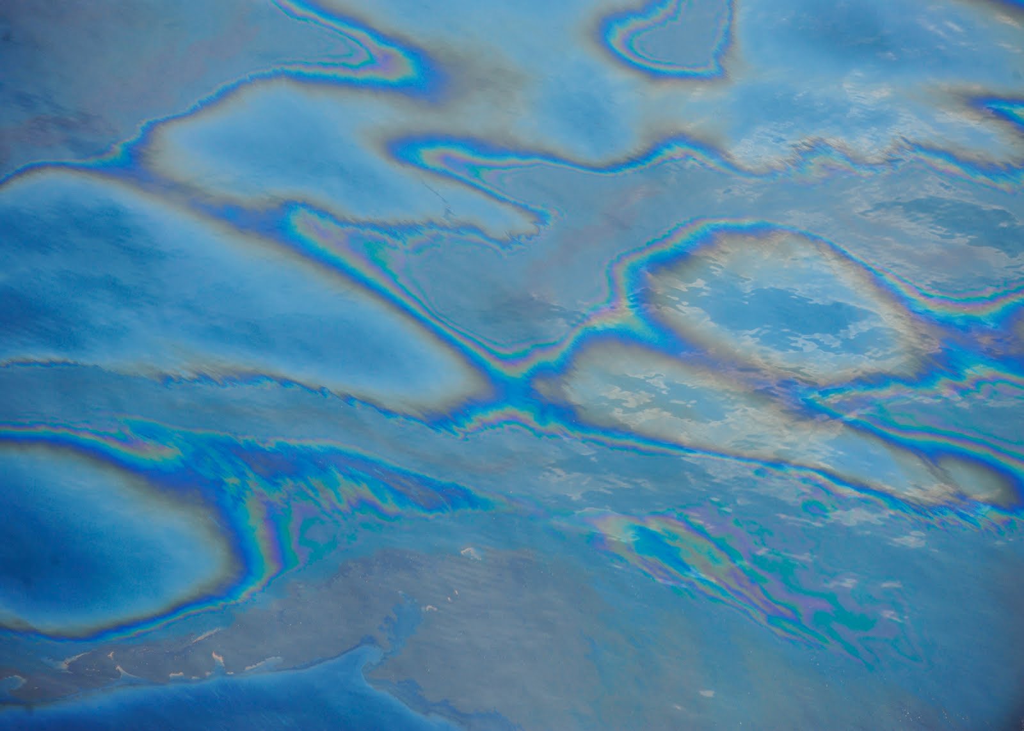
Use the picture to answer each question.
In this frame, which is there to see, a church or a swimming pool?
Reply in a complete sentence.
The one in the frame is a swimming pool.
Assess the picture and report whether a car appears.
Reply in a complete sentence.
No, this view has no car in it.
